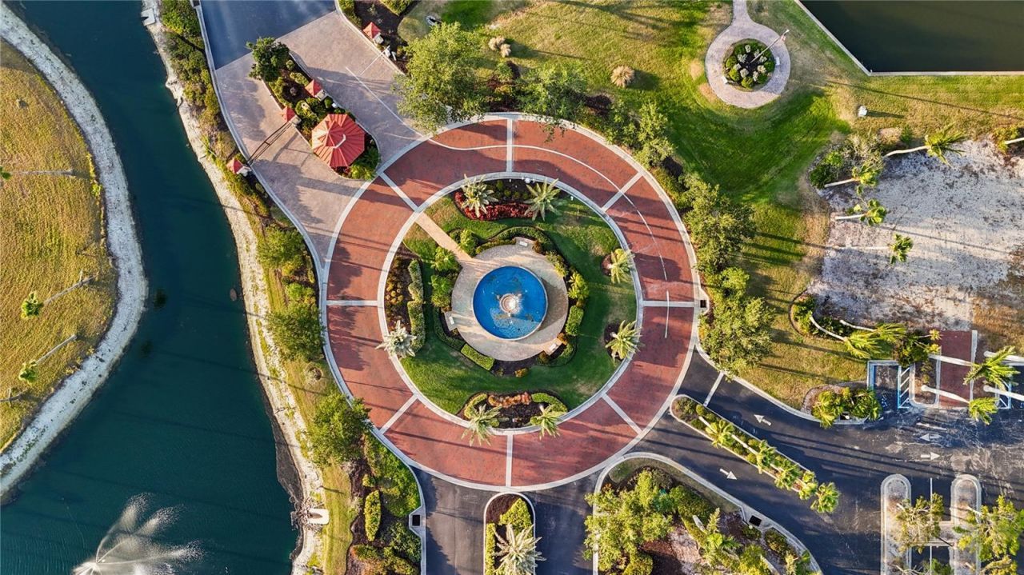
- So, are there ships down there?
No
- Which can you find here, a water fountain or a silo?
water fountain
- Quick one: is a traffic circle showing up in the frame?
Yes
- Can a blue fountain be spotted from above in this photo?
Yes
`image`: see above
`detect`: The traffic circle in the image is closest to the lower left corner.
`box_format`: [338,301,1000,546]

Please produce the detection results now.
[319,111,703,487]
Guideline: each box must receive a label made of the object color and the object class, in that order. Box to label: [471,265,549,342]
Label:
blue fountain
